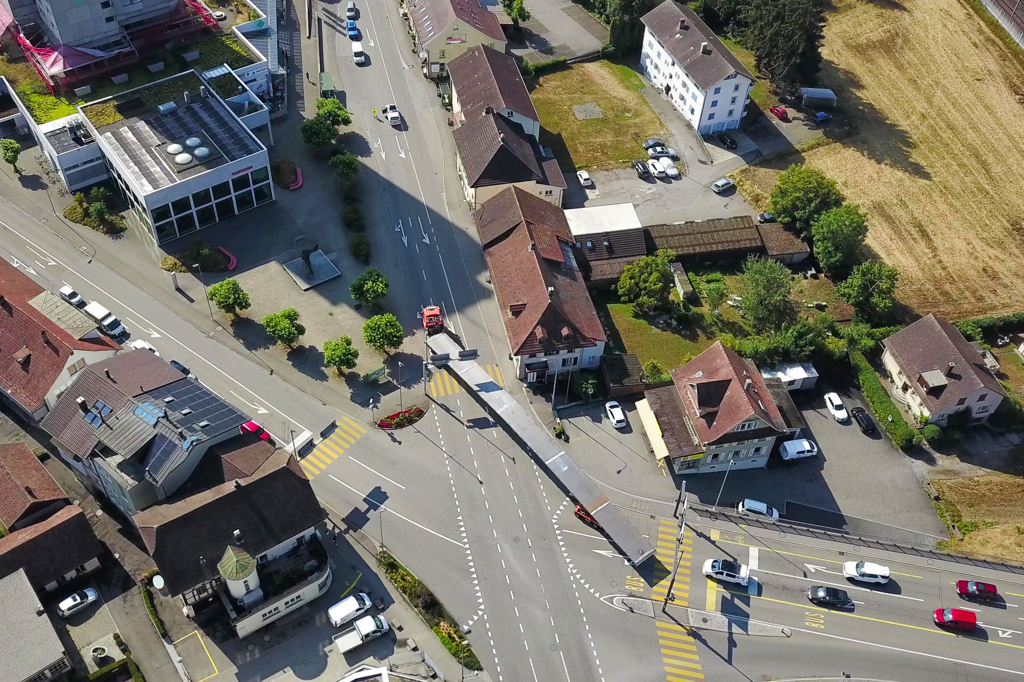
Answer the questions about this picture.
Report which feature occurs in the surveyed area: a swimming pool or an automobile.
automobile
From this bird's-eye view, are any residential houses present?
Yes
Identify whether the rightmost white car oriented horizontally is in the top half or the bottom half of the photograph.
bottom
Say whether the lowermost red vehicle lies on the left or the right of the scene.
right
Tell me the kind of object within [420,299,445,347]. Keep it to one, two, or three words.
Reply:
truck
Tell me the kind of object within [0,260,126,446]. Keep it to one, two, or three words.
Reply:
house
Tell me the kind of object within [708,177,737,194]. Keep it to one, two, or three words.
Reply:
car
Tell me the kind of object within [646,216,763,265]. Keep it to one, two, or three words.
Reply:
shed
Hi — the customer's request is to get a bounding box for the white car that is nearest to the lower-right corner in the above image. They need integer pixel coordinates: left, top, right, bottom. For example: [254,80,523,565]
[845,559,889,585]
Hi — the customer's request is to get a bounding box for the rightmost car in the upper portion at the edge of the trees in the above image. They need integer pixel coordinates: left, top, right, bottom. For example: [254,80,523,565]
[809,111,833,125]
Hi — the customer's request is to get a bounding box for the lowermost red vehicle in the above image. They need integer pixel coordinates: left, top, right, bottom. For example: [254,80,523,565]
[932,606,979,632]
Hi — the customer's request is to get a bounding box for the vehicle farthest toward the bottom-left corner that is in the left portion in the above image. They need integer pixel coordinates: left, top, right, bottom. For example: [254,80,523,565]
[52,588,102,621]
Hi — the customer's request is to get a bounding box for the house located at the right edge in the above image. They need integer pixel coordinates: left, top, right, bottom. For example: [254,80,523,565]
[882,312,1011,420]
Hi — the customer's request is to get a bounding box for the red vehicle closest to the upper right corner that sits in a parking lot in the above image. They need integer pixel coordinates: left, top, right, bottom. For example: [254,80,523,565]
[767,106,790,122]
